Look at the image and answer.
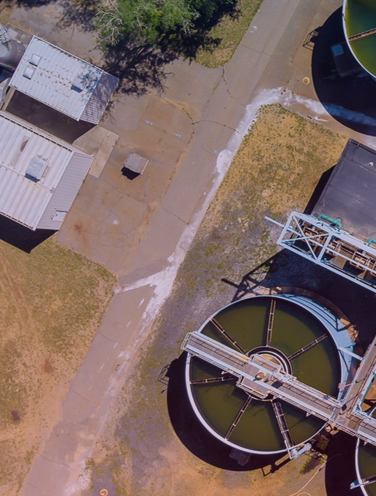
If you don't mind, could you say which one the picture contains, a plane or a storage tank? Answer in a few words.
storage tank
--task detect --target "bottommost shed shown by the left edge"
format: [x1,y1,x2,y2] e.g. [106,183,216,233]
[0,108,93,231]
